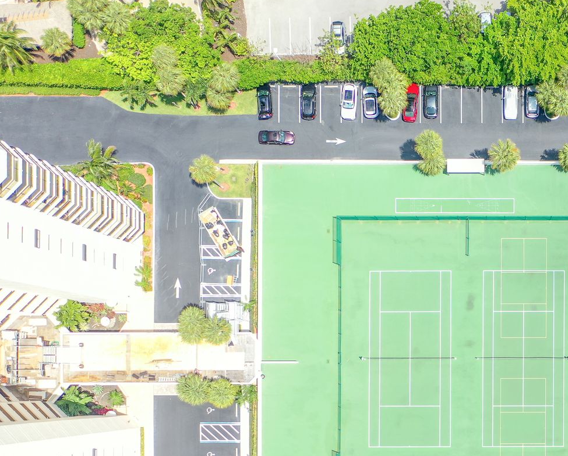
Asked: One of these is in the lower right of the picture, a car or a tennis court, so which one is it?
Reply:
tennis court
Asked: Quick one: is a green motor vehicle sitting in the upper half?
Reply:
No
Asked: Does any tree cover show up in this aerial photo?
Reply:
Yes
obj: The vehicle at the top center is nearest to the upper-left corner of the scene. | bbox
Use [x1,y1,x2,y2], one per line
[255,86,273,120]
